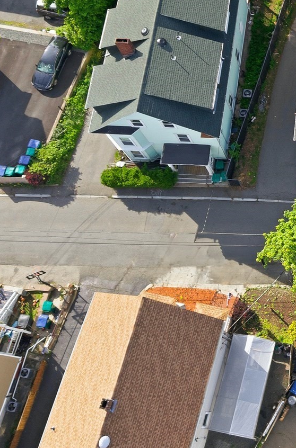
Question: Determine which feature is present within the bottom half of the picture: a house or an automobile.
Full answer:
There is a house within the bottom half of the picture.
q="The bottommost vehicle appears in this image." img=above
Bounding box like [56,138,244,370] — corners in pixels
[33,38,70,88]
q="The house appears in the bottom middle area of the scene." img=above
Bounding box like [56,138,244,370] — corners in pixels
[37,292,236,448]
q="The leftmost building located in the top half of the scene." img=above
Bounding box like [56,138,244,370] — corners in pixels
[84,0,265,191]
